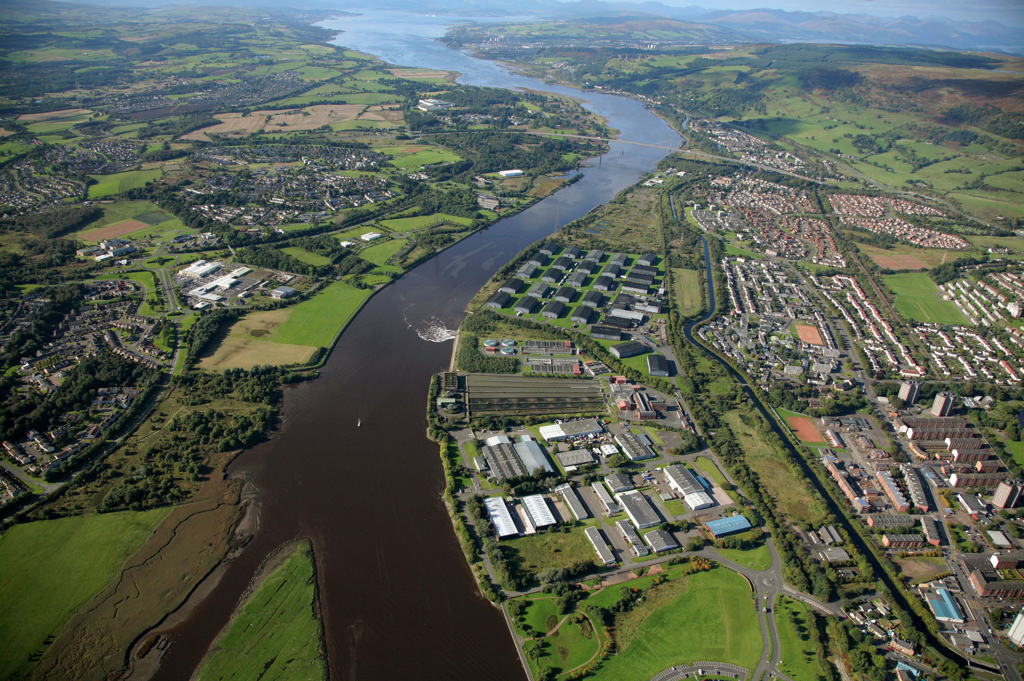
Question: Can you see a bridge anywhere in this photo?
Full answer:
Yes, the photo shows a bridge.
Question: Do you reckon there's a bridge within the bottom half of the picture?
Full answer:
No, no bridge appears within the bottom half of the picture.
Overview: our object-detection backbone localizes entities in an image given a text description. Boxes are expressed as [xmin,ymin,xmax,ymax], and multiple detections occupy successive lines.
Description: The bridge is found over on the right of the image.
[521,130,812,179]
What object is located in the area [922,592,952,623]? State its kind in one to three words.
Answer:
shed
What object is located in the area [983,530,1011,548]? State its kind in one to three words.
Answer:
shed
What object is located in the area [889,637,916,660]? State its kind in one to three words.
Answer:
house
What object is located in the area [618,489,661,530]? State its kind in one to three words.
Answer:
building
